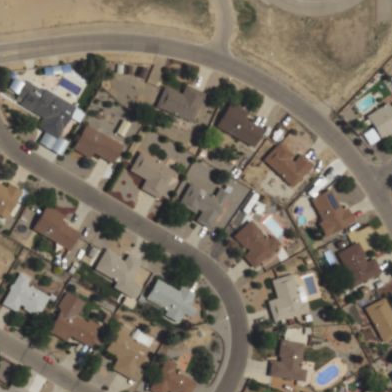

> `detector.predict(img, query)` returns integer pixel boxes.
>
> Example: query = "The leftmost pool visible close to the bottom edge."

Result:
[312,360,343,388]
